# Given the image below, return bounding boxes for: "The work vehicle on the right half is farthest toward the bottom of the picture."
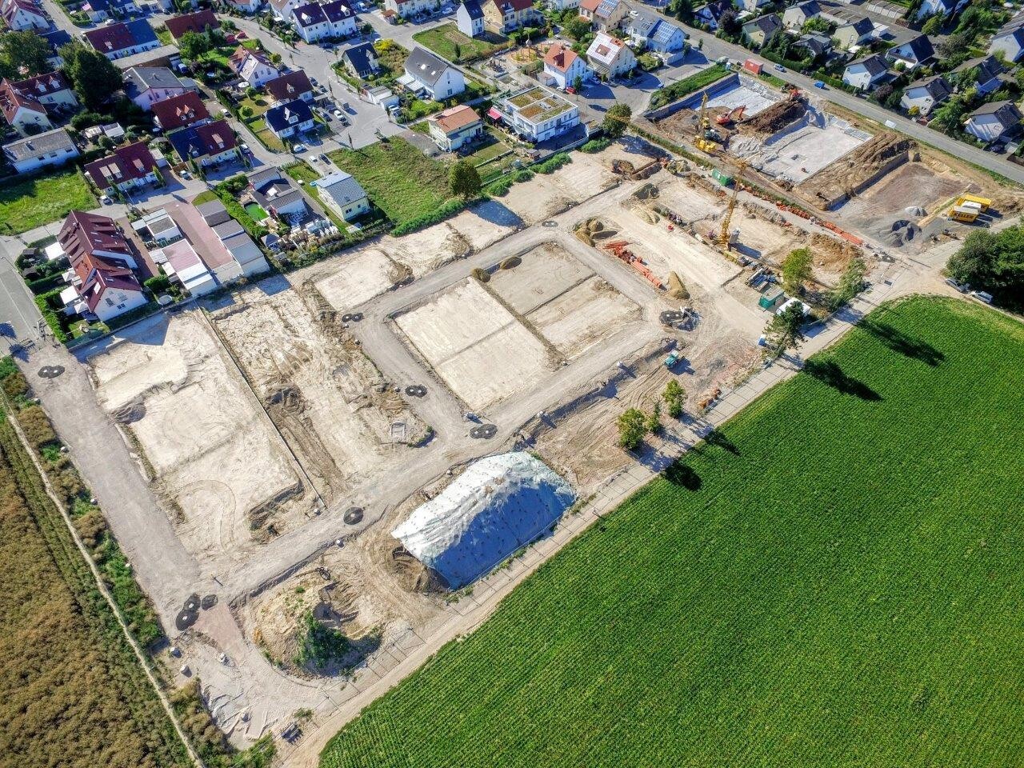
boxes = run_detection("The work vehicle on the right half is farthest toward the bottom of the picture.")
[657,348,685,370]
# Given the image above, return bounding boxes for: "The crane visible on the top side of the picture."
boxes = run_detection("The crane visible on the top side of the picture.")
[605,112,768,258]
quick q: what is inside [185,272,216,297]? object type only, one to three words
building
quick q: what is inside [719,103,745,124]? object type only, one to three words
work vehicle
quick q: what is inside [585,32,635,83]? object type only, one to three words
house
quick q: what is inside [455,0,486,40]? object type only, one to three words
house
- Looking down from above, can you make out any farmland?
Yes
